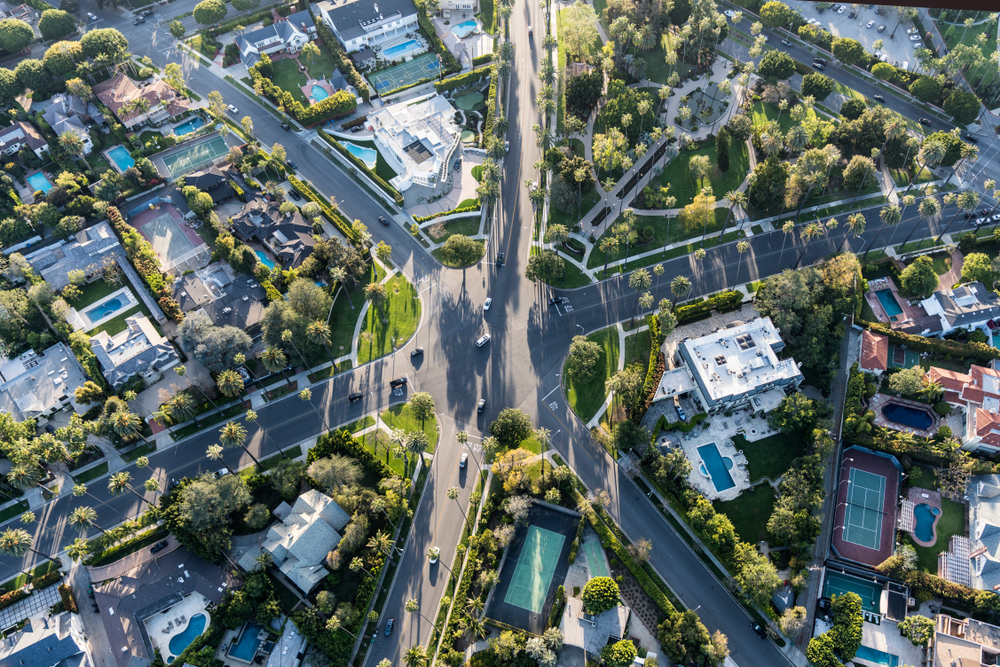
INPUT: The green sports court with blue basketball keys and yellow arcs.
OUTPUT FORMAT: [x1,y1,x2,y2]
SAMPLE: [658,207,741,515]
[369,52,446,91]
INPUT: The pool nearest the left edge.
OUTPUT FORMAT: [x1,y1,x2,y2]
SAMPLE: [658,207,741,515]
[25,170,51,195]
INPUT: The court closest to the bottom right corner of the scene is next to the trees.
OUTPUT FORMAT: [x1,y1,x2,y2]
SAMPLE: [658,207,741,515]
[821,567,883,613]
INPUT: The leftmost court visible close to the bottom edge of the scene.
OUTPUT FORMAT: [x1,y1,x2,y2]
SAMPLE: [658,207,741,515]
[484,498,580,637]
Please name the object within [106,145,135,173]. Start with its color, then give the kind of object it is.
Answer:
blue swimming pool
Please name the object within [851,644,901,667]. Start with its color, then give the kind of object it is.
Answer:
blue swimming pool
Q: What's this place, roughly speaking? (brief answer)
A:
residential area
